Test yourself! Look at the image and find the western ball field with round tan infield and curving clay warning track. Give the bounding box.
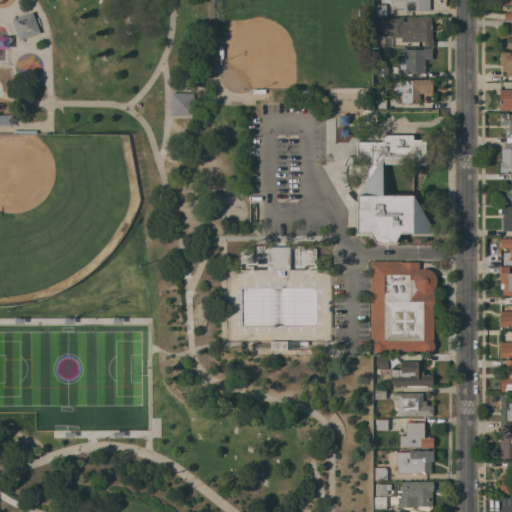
[0,134,140,303]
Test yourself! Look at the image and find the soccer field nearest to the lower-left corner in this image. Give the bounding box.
[0,325,148,432]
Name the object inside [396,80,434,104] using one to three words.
house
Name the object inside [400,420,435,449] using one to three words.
house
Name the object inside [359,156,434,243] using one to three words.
building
